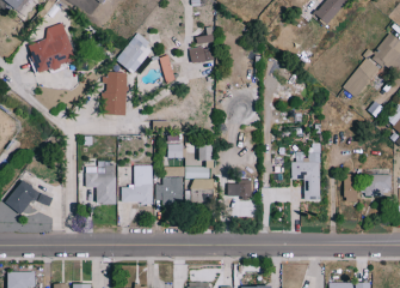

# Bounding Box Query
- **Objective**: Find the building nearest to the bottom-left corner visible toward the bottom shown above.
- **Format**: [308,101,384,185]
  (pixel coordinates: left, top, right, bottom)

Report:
[7,271,36,288]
